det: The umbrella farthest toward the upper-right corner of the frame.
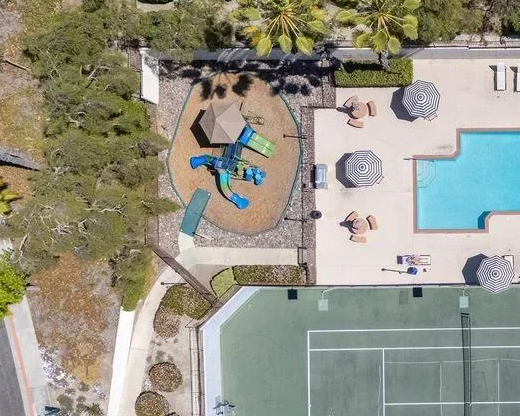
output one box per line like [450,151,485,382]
[402,78,441,117]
